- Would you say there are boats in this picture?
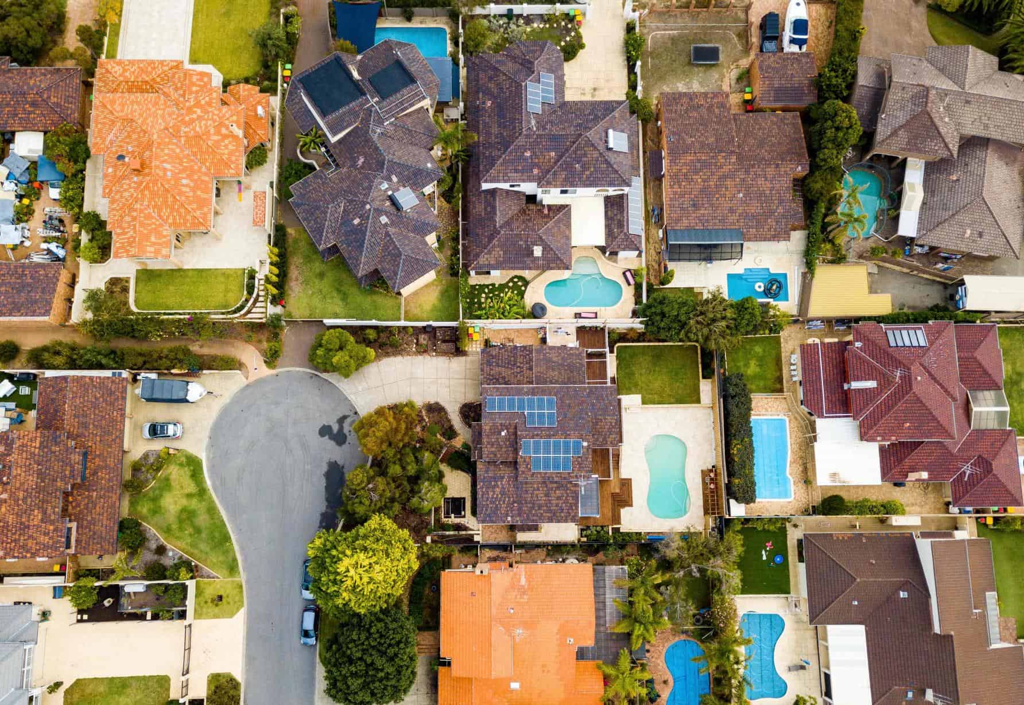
Yes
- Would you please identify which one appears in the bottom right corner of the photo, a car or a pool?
pool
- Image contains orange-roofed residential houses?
Yes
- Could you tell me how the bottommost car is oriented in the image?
from top to bottom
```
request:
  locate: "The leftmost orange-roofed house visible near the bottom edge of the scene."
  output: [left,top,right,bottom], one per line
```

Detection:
[437,561,605,705]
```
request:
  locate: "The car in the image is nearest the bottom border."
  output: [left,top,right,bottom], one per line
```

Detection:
[299,604,319,647]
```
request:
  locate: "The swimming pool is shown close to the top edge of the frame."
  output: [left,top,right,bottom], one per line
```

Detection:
[374,23,450,57]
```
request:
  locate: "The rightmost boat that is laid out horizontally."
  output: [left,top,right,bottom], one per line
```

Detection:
[129,376,215,403]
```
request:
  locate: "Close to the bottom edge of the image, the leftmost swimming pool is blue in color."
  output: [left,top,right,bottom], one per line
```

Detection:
[662,637,712,705]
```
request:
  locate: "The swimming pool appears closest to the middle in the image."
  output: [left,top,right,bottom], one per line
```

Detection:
[541,253,626,310]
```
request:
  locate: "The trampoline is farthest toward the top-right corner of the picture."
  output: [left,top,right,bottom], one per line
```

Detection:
[692,43,721,62]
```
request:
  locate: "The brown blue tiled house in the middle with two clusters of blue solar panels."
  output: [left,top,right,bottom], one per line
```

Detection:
[470,345,623,524]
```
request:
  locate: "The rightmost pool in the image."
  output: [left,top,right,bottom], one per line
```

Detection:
[836,165,886,241]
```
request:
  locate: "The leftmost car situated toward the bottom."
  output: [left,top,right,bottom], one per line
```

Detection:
[142,421,184,440]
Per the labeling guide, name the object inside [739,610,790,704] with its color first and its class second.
blue swimming pool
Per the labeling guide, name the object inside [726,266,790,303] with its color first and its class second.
blue swimming pool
